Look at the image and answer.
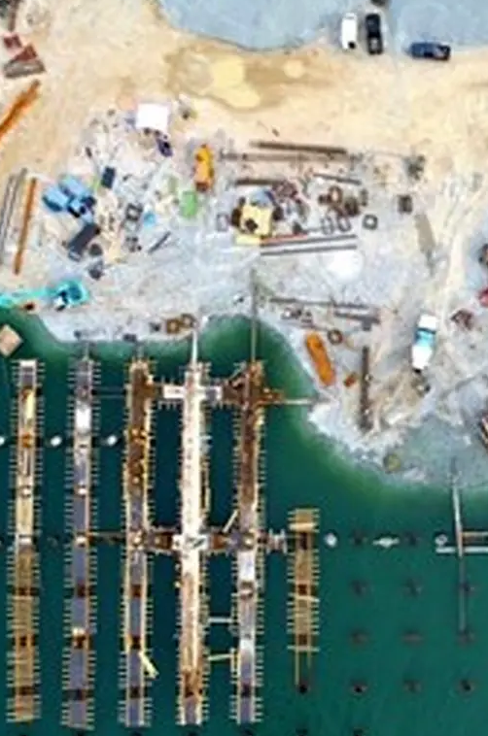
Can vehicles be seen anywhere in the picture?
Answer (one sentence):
Yes, this view includes a vehicle.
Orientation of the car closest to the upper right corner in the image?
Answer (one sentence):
In this picture, the car closest to the upper right corner is oriented from left to right.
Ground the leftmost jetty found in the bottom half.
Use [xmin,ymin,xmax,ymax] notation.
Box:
[5,360,46,723]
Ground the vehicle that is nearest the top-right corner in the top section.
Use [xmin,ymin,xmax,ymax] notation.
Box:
[410,39,449,59]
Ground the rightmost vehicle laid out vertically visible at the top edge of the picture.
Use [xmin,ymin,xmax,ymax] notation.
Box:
[364,10,383,52]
